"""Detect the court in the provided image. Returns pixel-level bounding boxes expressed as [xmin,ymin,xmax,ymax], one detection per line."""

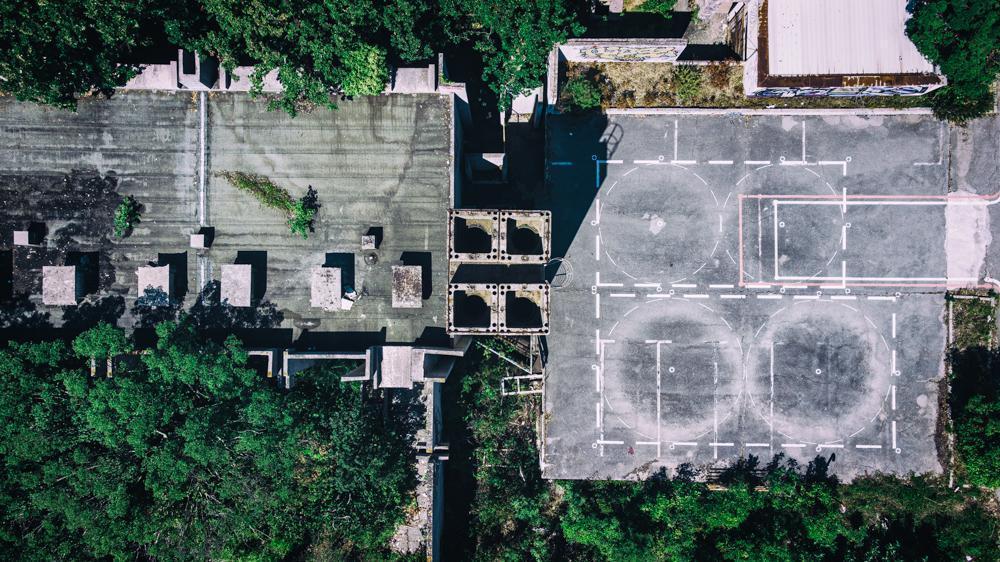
[535,110,1000,481]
